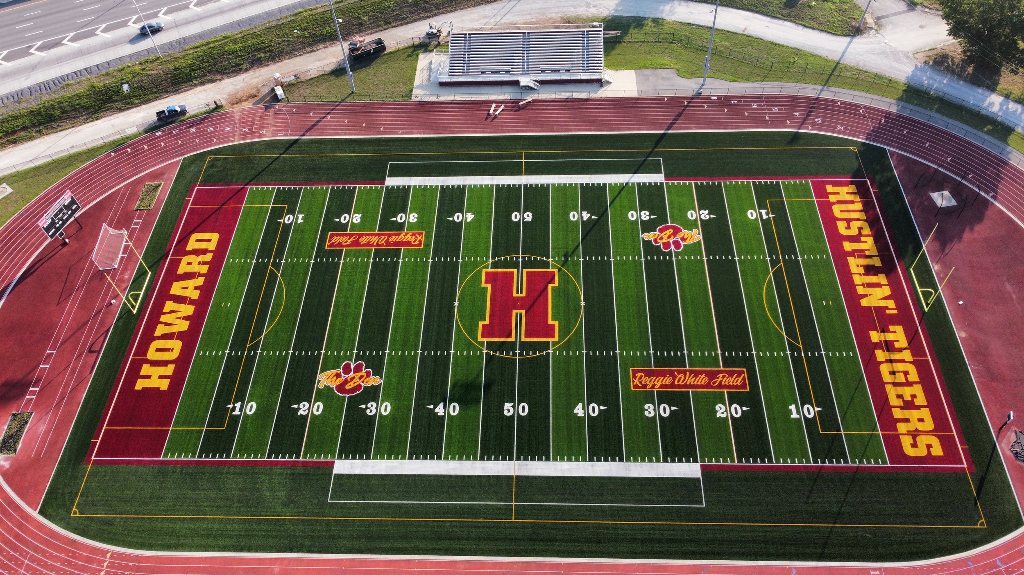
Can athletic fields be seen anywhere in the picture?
Yes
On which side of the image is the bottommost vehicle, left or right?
left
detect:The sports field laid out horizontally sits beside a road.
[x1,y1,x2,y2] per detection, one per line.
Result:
[39,130,1023,562]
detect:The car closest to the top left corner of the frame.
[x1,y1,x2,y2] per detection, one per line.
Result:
[139,22,164,34]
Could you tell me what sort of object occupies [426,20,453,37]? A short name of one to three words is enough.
work vehicle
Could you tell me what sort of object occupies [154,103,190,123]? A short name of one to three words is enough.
vehicle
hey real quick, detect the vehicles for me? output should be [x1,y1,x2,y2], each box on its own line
[347,34,365,47]
[139,22,164,34]
[426,20,453,37]
[154,103,190,123]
